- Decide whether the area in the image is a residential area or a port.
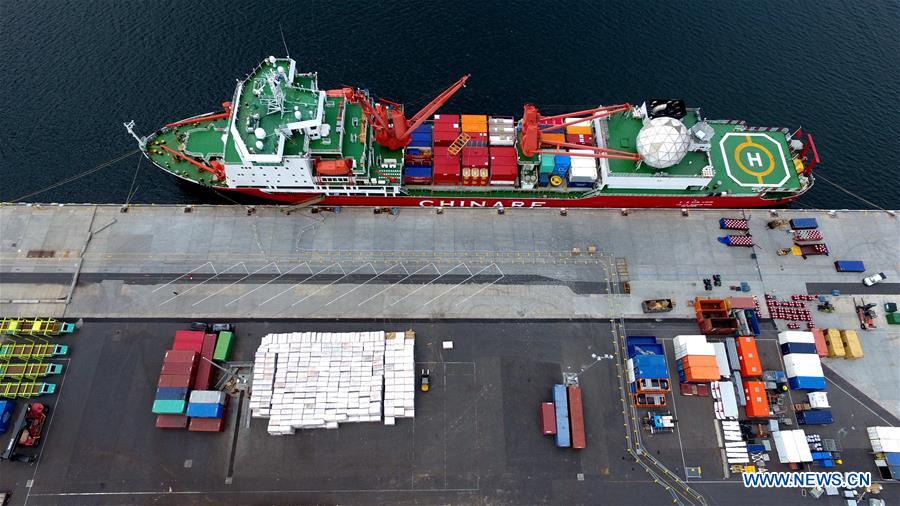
port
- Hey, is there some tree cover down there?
No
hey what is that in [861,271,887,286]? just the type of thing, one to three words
vehicle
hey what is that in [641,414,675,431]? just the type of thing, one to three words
vehicle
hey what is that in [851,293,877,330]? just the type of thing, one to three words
work vehicle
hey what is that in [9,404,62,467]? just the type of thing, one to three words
work vehicle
